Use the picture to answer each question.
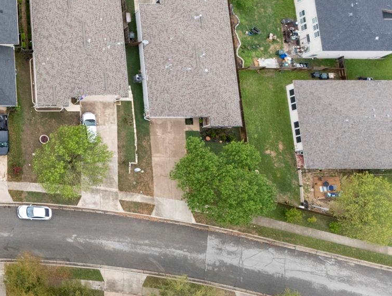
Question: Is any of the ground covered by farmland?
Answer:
No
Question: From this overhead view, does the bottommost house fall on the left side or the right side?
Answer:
right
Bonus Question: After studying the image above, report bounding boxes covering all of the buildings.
[0,0,20,108]
[133,0,243,127]
[27,0,130,108]
[291,0,392,58]
[283,80,392,170]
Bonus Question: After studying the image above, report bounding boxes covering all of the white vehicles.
[84,111,102,146]
[16,204,53,220]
